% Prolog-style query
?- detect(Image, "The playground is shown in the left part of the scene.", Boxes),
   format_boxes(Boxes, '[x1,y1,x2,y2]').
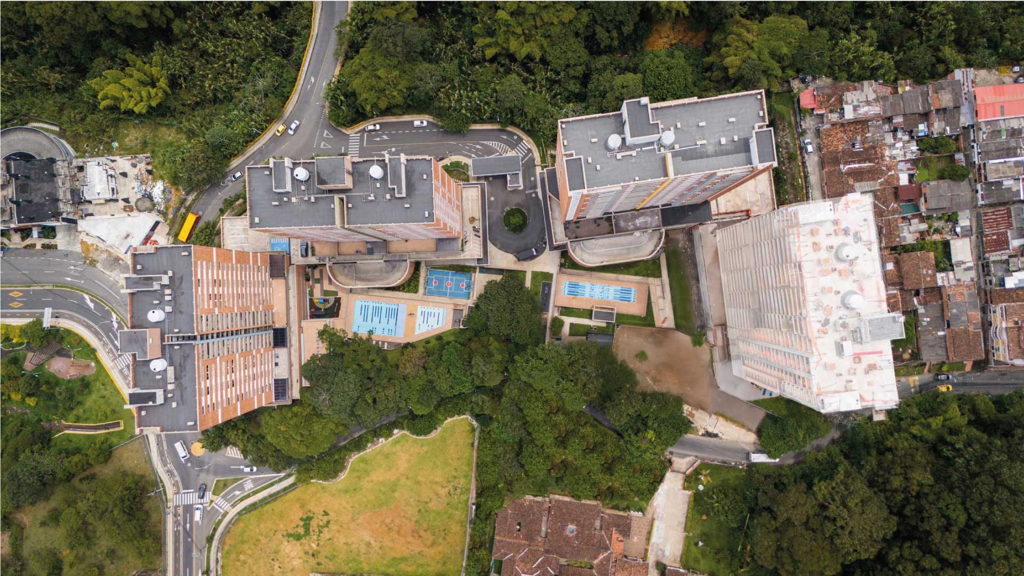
[309,297,341,318]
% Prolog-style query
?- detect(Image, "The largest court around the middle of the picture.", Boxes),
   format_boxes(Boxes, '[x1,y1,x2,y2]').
[423,267,473,301]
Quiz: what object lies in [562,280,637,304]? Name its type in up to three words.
swimming pool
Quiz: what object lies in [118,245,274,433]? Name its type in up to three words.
building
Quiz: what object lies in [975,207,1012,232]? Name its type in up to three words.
house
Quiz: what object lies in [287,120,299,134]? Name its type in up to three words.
vehicle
